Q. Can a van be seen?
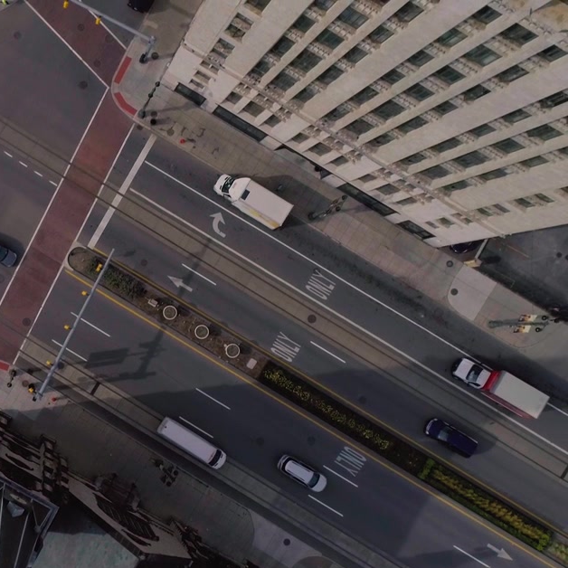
Yes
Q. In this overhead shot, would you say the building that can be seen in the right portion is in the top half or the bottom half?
top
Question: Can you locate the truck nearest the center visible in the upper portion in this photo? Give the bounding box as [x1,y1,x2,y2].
[213,175,293,229]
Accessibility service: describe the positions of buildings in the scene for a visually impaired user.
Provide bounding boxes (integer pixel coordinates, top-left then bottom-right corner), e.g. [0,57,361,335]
[0,406,207,568]
[162,0,568,249]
